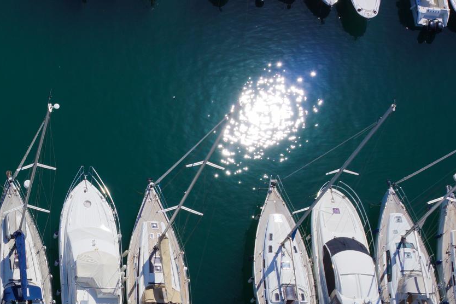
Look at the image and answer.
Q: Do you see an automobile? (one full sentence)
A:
No, there appears to be no automobile in this shot.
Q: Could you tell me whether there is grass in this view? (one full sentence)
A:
No, the scene doesn't show any grass.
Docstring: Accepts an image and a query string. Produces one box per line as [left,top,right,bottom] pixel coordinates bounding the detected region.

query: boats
[57,165,123,304]
[317,0,339,11]
[410,0,451,36]
[350,0,382,21]
[374,149,456,304]
[436,186,456,304]
[306,174,380,304]
[250,93,404,304]
[0,89,61,304]
[126,105,234,304]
